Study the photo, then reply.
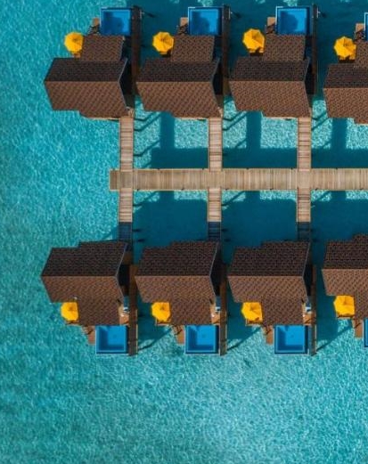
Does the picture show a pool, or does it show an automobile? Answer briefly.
pool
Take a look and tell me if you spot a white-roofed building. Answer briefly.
No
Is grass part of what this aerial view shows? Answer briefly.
No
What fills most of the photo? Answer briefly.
water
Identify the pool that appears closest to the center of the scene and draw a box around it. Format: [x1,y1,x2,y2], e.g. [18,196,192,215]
[182,322,219,356]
